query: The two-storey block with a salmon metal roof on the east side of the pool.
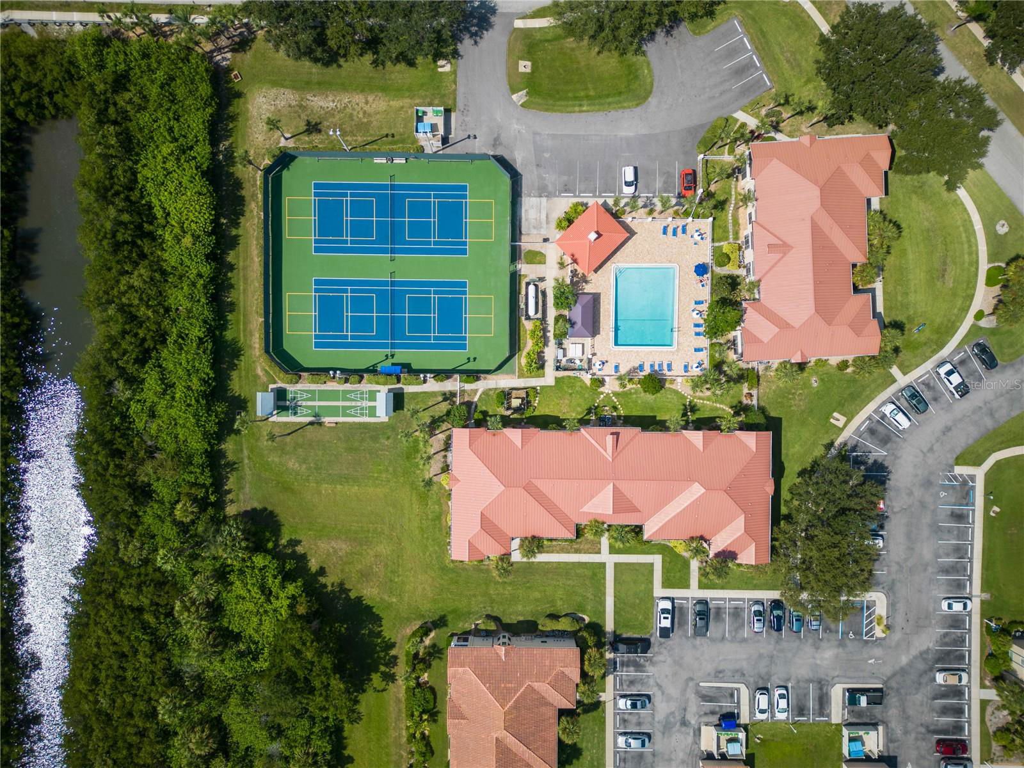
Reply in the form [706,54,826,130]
[733,133,893,363]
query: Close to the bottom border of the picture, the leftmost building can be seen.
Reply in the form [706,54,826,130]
[447,635,580,768]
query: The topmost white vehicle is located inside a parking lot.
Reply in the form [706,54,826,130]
[623,164,638,194]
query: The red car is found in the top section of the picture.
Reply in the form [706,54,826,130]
[682,167,697,196]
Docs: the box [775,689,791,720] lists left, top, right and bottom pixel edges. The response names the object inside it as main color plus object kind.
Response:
white car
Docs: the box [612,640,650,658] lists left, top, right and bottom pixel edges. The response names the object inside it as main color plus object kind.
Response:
black vehicle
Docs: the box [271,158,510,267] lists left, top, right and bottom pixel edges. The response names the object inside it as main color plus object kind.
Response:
green tennis court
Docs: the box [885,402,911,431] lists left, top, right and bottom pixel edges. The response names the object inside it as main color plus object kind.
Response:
white car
